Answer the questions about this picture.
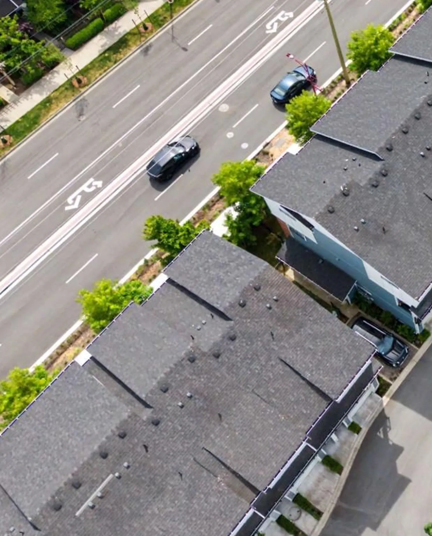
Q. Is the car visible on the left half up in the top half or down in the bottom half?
top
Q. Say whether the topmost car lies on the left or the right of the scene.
right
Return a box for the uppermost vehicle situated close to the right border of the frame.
[344,309,412,370]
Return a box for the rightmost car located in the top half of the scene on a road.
[267,64,316,108]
